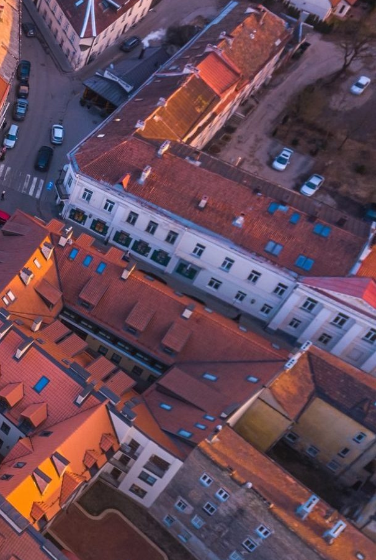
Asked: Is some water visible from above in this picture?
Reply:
No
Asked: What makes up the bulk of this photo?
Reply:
buildings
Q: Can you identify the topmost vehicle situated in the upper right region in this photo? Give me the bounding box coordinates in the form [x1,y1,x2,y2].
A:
[350,76,369,94]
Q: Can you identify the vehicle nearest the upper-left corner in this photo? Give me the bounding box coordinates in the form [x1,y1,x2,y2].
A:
[21,21,36,38]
